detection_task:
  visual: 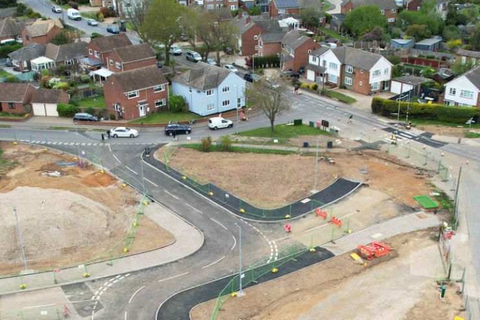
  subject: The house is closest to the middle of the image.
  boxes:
[175,60,251,117]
